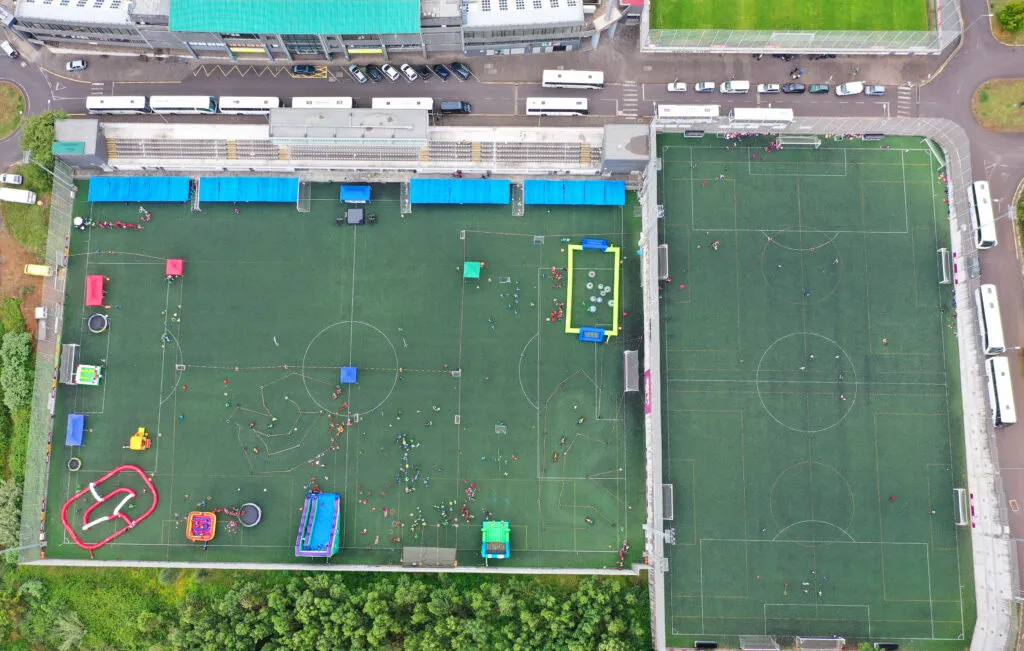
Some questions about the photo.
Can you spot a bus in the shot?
Yes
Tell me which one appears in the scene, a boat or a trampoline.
trampoline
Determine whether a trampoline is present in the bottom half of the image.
Yes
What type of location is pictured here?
sports ground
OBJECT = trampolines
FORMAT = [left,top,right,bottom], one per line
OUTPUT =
[238,503,263,527]
[68,458,81,470]
[88,314,107,333]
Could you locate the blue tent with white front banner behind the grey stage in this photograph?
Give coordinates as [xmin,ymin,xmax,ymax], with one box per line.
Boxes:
[340,186,373,204]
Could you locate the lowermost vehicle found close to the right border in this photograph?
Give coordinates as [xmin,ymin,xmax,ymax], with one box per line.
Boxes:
[981,355,1020,427]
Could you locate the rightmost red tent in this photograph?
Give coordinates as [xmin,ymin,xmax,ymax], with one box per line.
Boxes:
[165,259,188,278]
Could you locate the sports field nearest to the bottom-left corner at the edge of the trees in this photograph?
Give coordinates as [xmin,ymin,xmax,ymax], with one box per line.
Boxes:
[38,179,644,569]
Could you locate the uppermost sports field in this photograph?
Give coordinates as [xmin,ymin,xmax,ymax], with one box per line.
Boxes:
[646,0,939,45]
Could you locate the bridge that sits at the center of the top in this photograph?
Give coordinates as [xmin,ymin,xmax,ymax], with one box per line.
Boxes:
[566,0,630,47]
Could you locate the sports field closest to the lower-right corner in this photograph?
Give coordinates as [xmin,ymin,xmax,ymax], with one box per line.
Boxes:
[654,134,978,651]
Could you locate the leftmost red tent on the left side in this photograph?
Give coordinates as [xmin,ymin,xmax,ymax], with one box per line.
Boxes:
[84,275,110,308]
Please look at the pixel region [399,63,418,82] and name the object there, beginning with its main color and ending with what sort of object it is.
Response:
white car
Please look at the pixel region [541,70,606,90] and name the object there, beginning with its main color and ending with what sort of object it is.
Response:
white bus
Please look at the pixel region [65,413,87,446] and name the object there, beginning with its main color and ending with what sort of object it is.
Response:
blue tent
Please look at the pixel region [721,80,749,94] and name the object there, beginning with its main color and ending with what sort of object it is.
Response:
white vehicle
